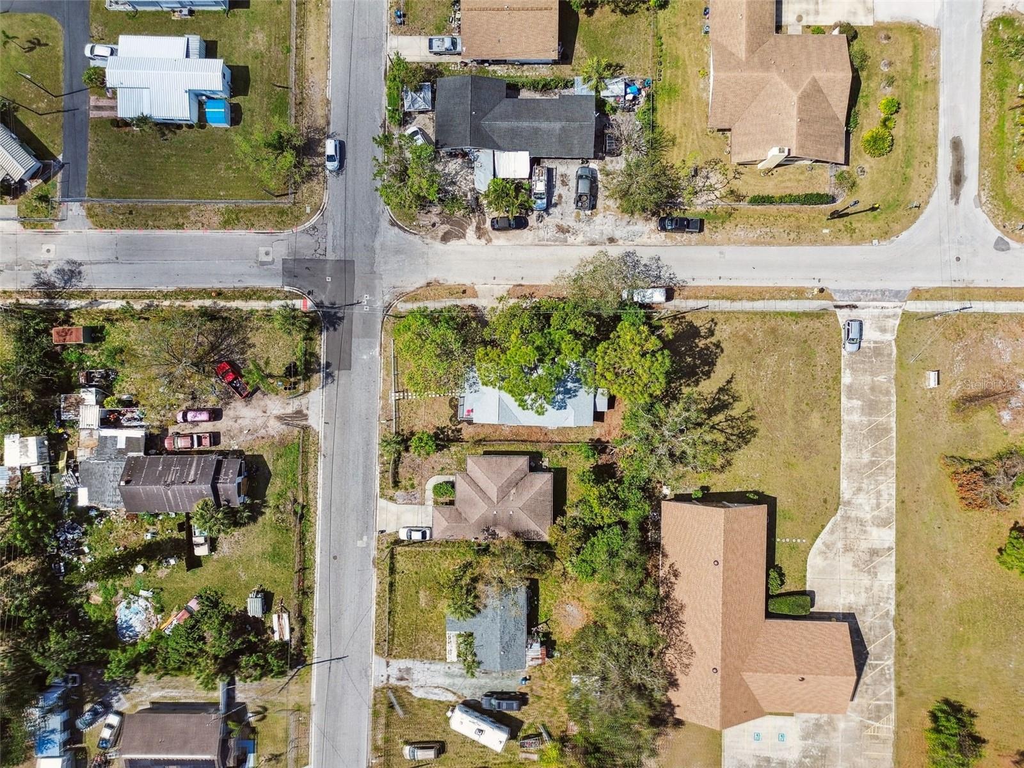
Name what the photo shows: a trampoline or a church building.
church building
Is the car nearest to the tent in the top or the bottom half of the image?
top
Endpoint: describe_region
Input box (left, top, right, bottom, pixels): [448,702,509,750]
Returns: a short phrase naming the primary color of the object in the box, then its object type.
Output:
white trailer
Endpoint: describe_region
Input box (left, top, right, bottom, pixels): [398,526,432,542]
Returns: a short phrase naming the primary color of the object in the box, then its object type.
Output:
white car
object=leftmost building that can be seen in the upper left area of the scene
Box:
[0,118,53,186]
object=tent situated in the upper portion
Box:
[404,84,432,117]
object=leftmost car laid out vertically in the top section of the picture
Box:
[324,138,340,172]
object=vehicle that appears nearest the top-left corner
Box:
[84,43,118,61]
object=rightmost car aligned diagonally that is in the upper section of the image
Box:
[407,122,434,155]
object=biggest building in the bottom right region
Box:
[660,495,858,729]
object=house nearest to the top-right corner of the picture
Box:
[707,0,854,173]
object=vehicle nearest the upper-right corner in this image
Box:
[843,319,861,352]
